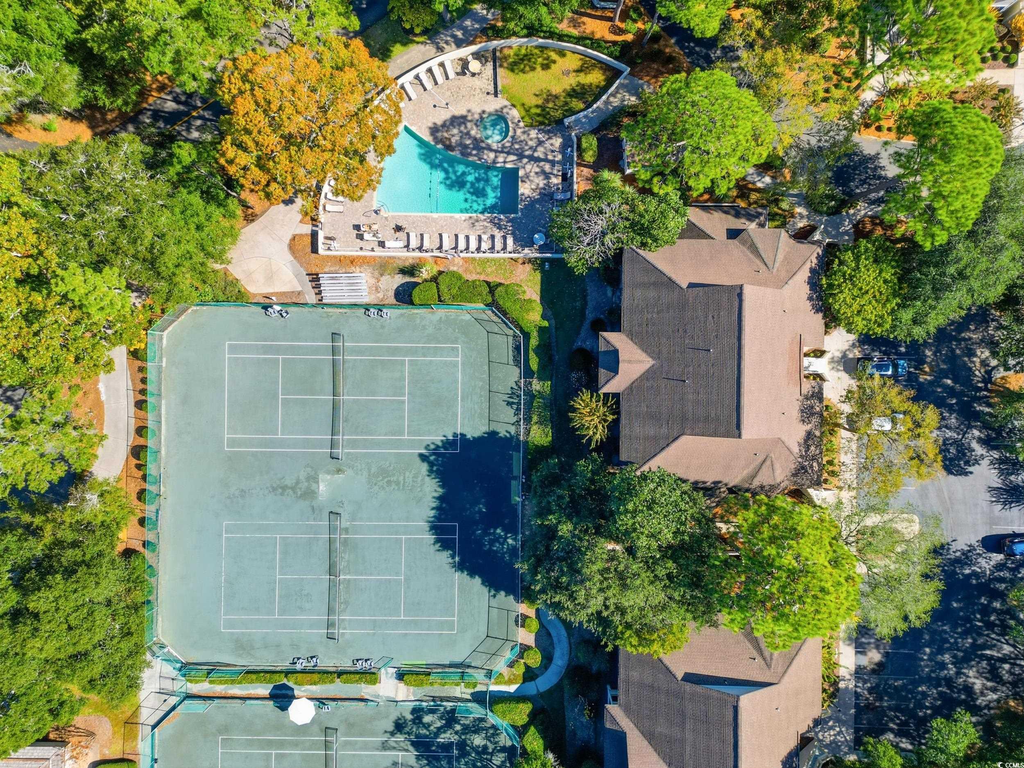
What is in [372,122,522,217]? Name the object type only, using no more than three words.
swimming pool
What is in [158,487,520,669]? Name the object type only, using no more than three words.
tennis court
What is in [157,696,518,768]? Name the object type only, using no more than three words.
tennis court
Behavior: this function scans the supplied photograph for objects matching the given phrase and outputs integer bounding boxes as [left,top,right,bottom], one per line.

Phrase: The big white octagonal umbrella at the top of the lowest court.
[289,696,316,724]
